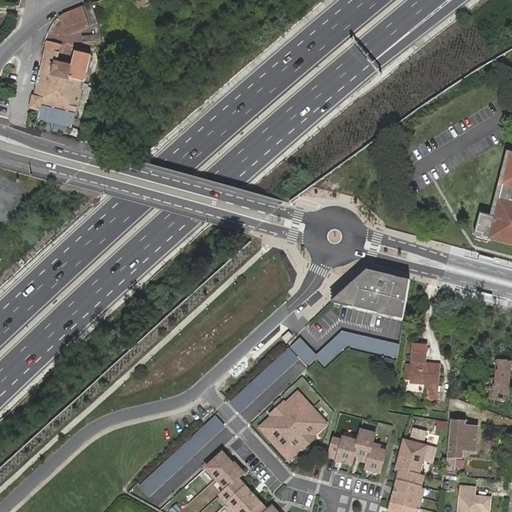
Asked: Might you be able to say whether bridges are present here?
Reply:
Yes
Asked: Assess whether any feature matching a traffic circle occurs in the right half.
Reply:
Yes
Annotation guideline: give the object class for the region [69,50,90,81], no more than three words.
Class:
house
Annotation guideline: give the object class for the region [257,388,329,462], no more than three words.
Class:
house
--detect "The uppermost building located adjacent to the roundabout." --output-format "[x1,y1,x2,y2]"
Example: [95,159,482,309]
[332,268,411,323]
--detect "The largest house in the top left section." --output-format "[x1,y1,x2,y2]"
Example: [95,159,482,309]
[28,40,83,110]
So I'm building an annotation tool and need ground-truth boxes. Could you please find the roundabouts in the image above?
[303,206,366,268]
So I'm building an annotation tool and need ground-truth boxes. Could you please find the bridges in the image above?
[89,160,256,230]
